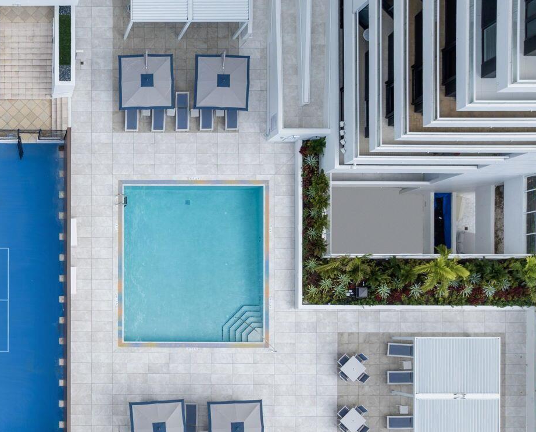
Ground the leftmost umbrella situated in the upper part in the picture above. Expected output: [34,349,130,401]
[119,47,174,111]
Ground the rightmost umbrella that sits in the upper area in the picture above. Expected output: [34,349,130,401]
[193,48,250,112]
